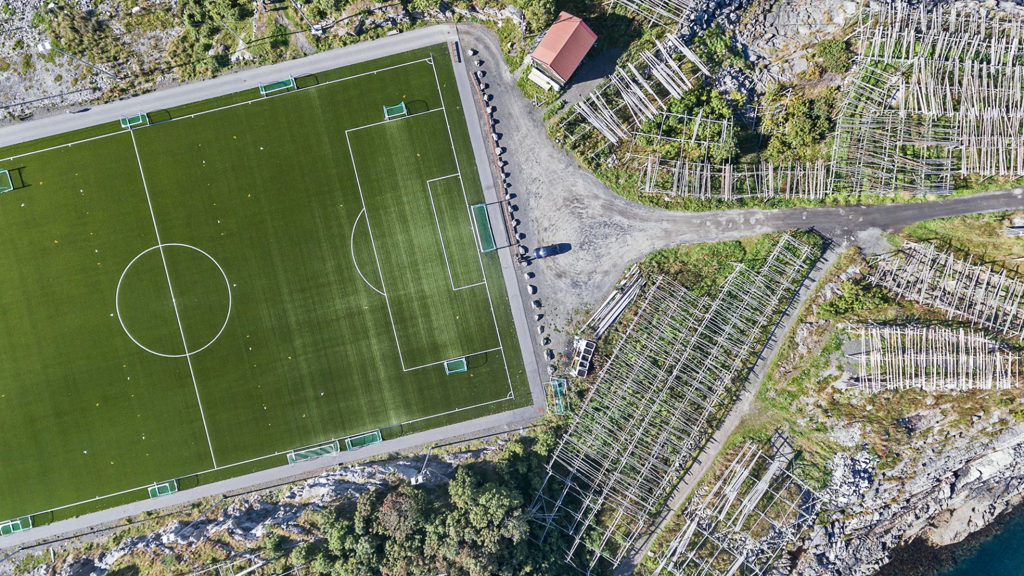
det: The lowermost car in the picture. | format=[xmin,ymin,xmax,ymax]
[533,243,561,257]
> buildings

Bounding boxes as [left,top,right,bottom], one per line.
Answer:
[530,12,597,84]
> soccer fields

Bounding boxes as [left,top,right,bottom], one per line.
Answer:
[0,43,534,535]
